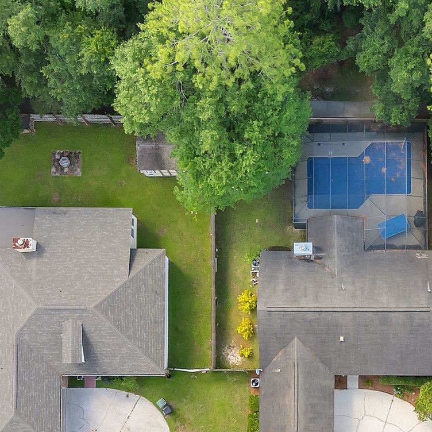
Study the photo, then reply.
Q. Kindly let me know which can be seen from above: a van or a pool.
pool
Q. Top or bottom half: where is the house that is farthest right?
bottom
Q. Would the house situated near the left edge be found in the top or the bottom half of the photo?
bottom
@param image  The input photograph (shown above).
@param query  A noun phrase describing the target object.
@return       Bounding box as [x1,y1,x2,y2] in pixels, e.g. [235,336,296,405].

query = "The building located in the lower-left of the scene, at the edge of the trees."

[0,206,170,432]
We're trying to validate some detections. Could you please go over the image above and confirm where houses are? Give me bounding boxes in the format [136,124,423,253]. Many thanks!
[0,206,170,432]
[256,215,432,432]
